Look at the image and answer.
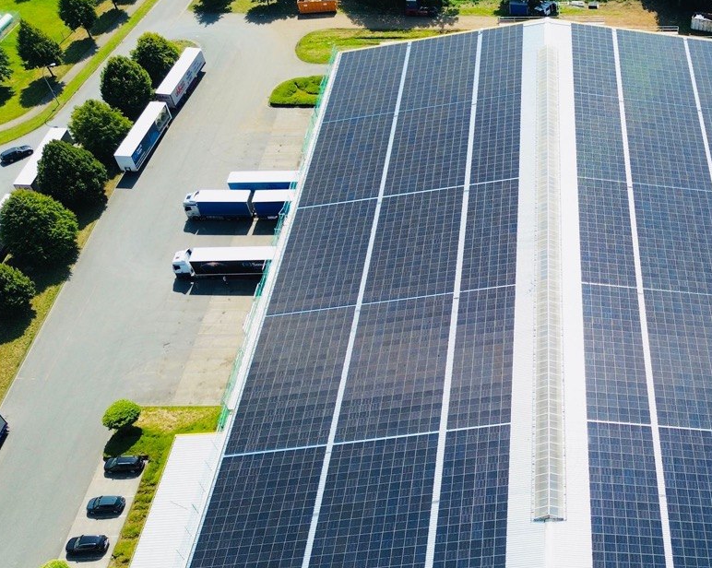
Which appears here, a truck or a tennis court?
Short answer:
truck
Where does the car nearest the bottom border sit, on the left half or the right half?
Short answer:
left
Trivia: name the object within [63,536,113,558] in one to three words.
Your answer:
car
